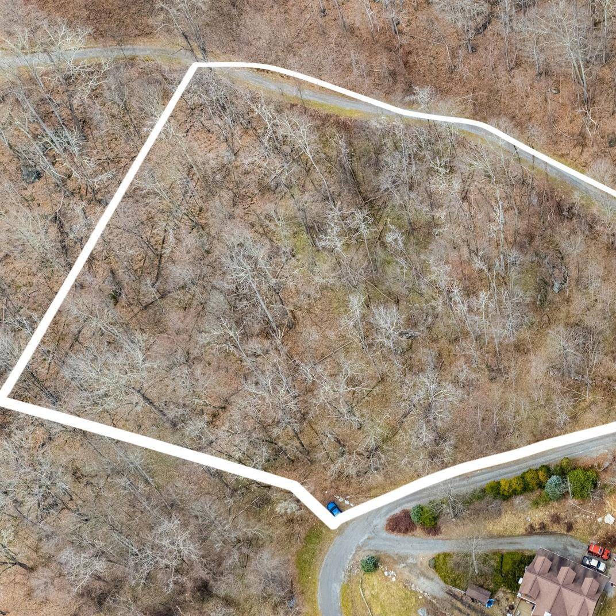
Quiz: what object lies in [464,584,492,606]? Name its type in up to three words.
shed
